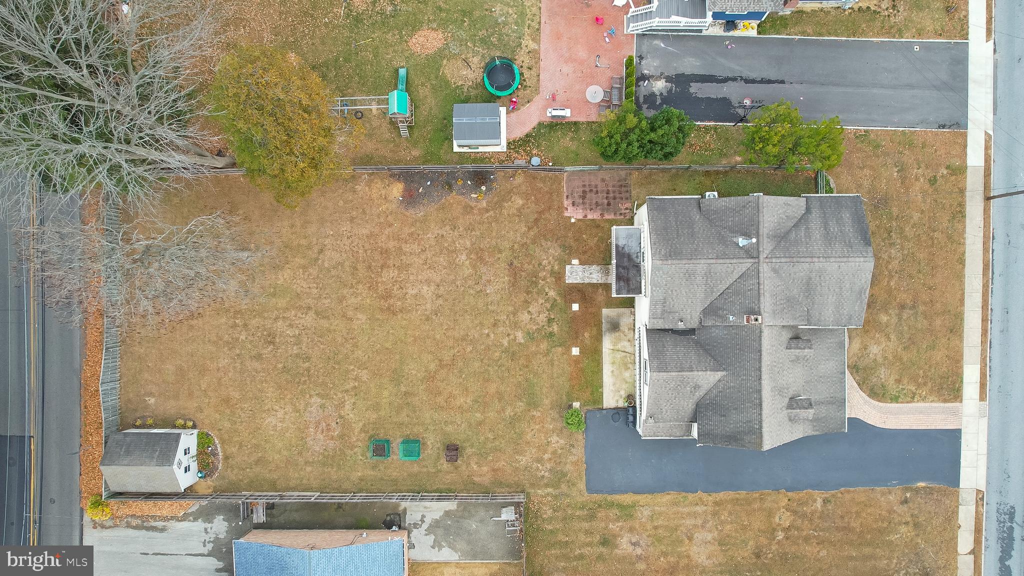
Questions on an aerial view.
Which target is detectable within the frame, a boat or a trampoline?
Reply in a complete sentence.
Of the two, only a trampoline appears.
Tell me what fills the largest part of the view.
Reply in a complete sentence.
Most of the picture is covered by grass.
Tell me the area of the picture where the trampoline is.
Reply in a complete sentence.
The trampoline appears toward the top of the photo.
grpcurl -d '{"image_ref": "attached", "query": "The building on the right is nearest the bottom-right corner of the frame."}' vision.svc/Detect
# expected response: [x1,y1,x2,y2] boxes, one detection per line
[633,194,892,450]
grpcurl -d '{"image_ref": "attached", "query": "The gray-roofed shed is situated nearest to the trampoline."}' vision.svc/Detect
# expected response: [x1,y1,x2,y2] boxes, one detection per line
[452,104,501,144]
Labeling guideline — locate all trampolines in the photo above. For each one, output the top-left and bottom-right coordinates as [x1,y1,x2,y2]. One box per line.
[484,54,520,98]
